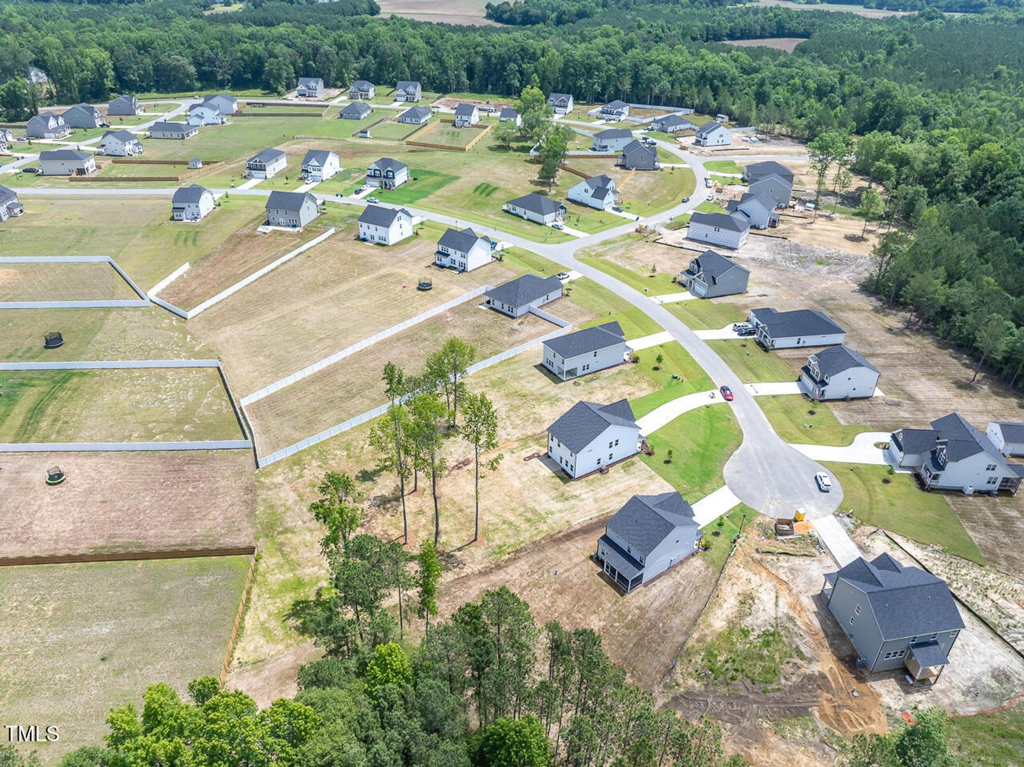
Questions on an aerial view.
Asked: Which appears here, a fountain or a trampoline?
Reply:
trampoline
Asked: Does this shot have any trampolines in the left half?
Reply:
Yes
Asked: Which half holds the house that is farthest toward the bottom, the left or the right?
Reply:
right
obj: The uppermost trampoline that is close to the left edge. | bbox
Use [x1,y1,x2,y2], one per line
[41,330,62,346]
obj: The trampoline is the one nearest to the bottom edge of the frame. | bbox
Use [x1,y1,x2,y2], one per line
[38,462,67,485]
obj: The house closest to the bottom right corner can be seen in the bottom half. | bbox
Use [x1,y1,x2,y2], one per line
[817,554,966,684]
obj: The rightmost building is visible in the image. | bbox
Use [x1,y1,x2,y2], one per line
[986,418,1024,457]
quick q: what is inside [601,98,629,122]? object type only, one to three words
house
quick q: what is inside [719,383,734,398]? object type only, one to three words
car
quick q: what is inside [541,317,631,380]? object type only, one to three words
house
